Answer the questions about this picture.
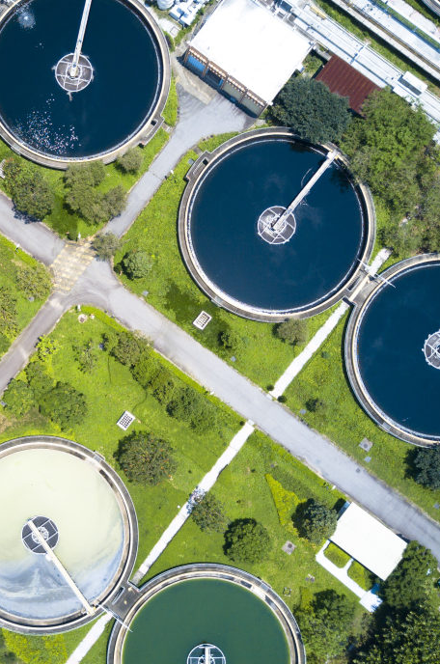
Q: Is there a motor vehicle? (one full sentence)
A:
No, no motor vehicle is visible in the scene.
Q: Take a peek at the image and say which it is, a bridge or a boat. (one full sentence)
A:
The one in the frame is a bridge.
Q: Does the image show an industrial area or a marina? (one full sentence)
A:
This image shows an industrial area.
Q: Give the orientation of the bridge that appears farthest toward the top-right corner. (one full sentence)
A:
From this overhead view, the bridge that appears farthest toward the top-right corner appears to run on a diagonal.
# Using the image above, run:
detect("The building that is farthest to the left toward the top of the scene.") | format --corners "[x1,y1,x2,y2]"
[183,0,311,114]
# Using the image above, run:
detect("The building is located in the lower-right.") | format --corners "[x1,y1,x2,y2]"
[330,501,406,580]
